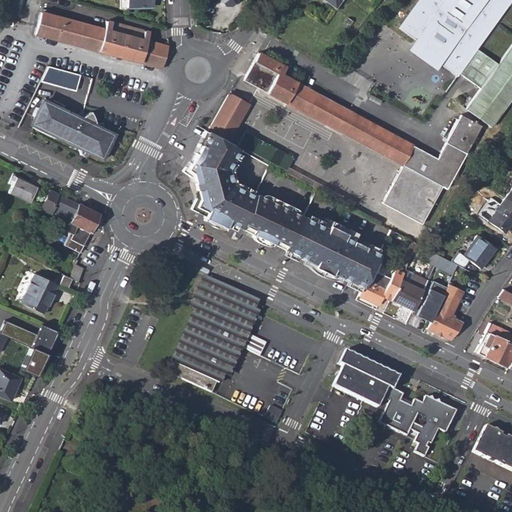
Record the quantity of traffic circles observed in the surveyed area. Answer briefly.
2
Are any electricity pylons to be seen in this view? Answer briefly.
No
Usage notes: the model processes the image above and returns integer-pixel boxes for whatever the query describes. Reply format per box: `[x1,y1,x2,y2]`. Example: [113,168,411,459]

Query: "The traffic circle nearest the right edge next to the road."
[166,37,232,103]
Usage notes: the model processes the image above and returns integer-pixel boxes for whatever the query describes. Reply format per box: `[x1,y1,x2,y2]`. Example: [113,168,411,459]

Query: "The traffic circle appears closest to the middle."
[106,178,181,253]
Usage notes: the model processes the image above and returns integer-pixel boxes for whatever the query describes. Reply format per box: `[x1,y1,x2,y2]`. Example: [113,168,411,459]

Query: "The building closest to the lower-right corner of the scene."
[468,424,512,472]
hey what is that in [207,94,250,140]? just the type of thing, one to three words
building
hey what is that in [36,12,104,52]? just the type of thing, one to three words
shed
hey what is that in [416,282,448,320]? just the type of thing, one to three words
house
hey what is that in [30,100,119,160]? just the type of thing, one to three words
building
